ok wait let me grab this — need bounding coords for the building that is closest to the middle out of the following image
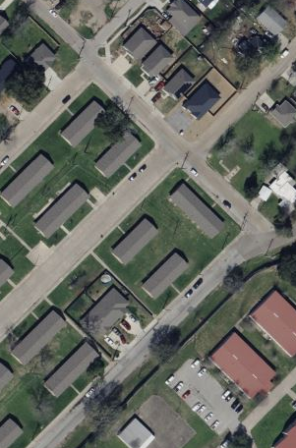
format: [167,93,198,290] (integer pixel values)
[112,217,157,263]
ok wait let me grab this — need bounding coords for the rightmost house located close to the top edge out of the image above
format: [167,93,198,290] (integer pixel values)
[257,6,286,35]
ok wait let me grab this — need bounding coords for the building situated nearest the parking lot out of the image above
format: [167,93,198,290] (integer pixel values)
[211,332,274,398]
